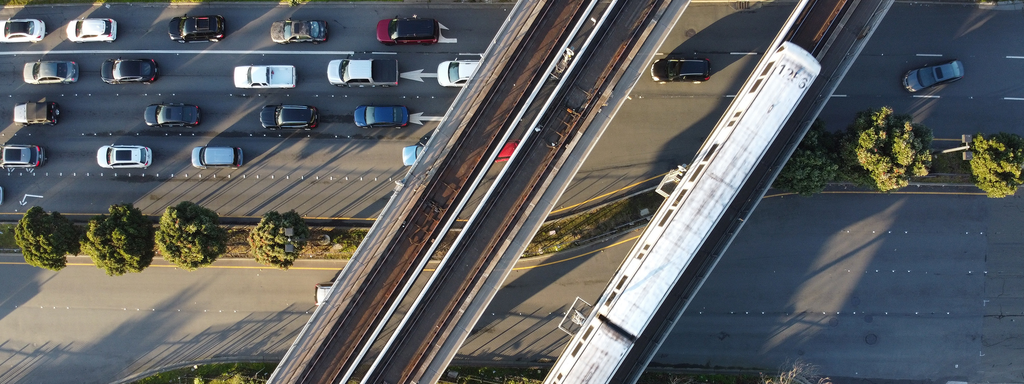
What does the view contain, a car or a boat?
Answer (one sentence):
Of the two, only a car appears.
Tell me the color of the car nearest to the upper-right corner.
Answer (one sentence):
The car nearest to the upper-right corner looks blue in the image.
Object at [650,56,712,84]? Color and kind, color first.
black car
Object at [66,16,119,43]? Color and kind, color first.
white car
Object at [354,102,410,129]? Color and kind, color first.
blue car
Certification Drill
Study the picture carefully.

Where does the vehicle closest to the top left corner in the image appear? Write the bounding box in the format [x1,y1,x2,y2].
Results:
[0,16,49,43]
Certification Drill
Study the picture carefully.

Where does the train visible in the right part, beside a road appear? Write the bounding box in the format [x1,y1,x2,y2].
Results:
[549,43,819,384]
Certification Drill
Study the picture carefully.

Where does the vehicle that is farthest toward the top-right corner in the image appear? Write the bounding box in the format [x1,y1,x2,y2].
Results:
[902,60,965,94]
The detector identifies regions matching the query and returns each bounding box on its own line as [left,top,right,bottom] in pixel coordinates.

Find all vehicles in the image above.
[437,58,478,86]
[377,16,440,45]
[101,57,161,84]
[0,16,49,43]
[144,101,202,128]
[14,99,63,126]
[24,58,81,85]
[168,13,227,42]
[66,16,119,43]
[354,102,410,129]
[260,102,320,130]
[234,62,298,89]
[0,142,47,169]
[902,60,965,94]
[402,142,423,166]
[192,143,244,170]
[327,57,401,86]
[650,56,712,84]
[271,17,329,45]
[97,142,154,170]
